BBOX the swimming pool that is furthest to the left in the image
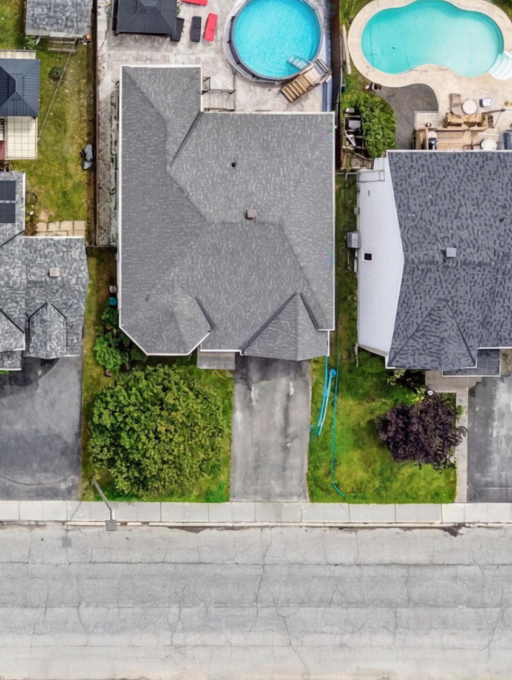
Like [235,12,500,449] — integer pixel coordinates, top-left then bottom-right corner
[224,0,324,84]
